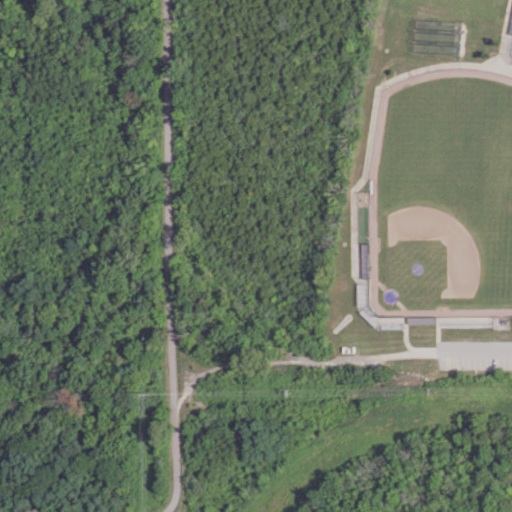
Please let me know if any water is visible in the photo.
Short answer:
No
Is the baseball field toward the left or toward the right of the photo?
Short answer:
right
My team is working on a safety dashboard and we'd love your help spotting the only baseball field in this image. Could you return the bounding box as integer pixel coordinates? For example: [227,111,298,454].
[358,70,512,317]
